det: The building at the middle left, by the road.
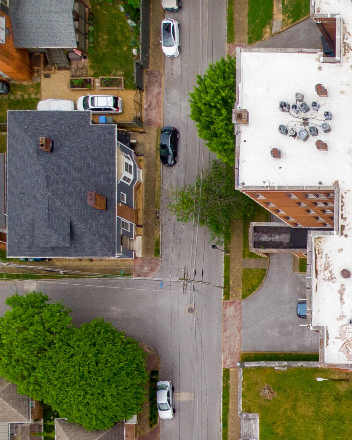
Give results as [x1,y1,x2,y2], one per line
[0,108,153,266]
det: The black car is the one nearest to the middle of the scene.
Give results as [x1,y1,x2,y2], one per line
[159,125,180,168]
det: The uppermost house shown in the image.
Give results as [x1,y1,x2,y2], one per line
[0,0,88,79]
